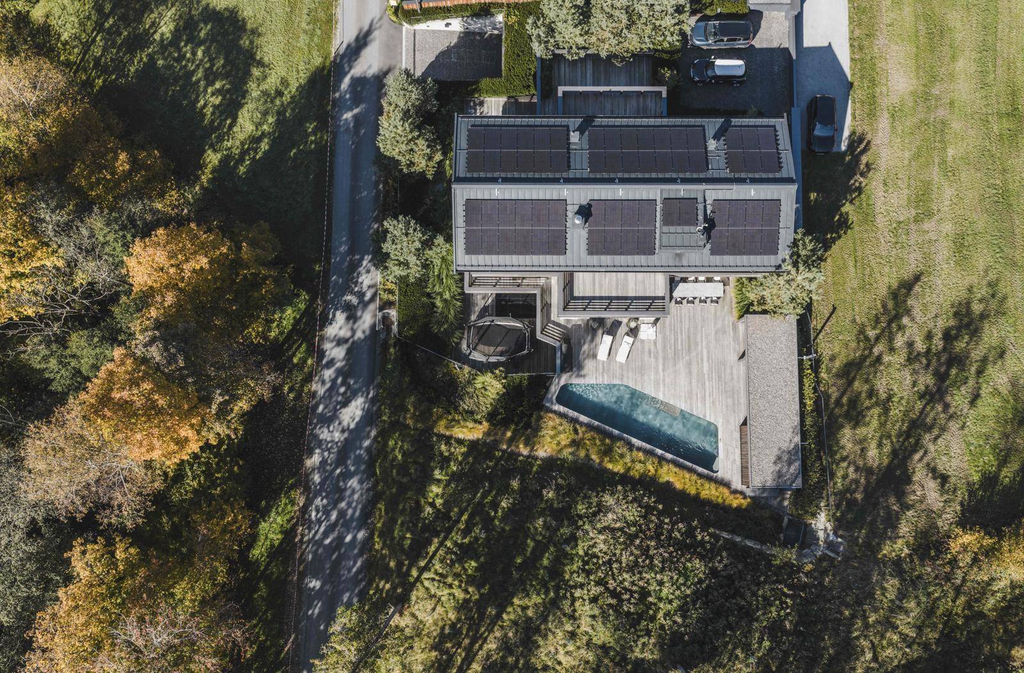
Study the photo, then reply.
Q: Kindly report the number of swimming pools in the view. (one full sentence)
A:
Just 1 swimming pool appears in this view.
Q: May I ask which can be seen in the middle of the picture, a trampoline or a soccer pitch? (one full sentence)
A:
It is a trampoline that can be seen in the middle of the picture.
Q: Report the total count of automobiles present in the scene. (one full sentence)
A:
Looking from above, you can make out 3 automobiles.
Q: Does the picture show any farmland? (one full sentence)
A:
No, there is no farmland in the image.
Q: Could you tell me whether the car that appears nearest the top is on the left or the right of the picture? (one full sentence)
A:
The car that appears nearest the top sits on the right side.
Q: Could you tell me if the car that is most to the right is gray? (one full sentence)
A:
No, the car that is most to the right is actually black.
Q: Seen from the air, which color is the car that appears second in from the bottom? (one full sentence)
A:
The color of the car that appears second in from the bottom is black.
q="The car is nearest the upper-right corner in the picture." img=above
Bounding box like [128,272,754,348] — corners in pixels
[805,96,837,155]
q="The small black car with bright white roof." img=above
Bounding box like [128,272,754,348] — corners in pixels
[688,58,746,88]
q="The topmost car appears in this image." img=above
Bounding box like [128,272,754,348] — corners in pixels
[689,19,753,52]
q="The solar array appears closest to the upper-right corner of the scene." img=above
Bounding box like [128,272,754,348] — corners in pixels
[725,127,781,173]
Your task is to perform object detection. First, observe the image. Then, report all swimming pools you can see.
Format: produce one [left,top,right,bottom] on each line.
[557,384,717,473]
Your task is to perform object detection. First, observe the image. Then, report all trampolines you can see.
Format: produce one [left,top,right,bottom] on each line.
[465,318,532,362]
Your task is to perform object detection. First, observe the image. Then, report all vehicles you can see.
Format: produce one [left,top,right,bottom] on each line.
[688,58,746,88]
[689,19,753,52]
[805,96,837,155]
